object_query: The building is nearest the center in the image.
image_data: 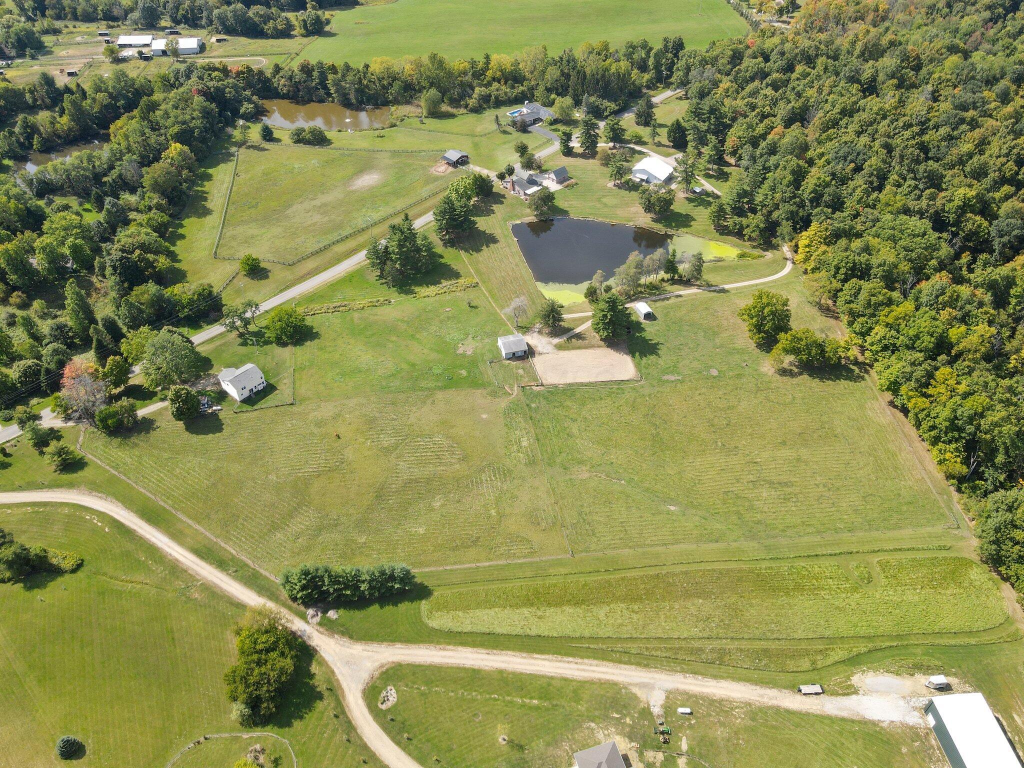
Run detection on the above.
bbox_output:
[498,334,528,358]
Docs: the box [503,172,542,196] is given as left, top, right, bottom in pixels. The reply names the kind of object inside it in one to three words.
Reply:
house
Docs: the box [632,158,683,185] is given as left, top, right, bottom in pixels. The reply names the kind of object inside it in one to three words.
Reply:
barn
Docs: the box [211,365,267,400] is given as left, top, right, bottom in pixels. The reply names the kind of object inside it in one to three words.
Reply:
house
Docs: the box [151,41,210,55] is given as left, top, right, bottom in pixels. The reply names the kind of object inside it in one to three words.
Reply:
barn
